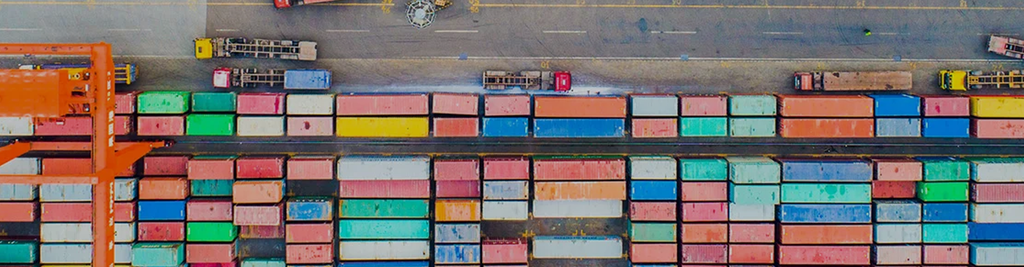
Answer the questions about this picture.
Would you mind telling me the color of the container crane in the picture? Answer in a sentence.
From above, the container crane appears orange.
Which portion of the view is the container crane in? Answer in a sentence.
The container crane sits in the left section of the image.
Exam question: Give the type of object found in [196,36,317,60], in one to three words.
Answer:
truck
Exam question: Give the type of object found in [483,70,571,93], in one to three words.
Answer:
truck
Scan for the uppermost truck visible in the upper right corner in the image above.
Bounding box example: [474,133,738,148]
[988,34,1024,57]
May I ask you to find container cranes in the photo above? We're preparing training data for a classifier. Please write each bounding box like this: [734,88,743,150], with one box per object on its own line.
[0,40,177,267]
